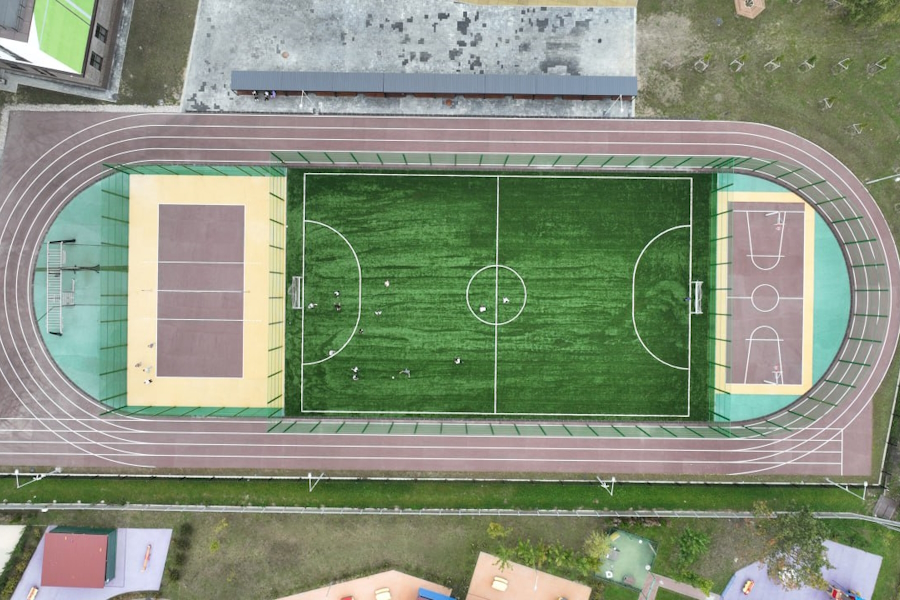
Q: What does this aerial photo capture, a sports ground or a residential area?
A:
sports ground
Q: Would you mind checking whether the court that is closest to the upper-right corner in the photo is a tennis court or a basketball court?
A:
basketball court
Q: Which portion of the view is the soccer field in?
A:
center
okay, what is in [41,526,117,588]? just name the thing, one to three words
building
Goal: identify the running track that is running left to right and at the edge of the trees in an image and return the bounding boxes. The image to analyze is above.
[0,112,900,475]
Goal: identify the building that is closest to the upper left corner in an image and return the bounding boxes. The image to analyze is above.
[0,0,123,92]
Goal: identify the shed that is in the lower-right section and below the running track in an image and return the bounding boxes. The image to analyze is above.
[873,495,897,519]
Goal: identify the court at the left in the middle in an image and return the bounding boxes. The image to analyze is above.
[127,167,287,416]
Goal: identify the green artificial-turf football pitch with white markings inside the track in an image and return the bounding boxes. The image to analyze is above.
[284,169,718,422]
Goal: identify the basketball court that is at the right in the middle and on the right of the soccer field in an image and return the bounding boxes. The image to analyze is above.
[715,174,851,422]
